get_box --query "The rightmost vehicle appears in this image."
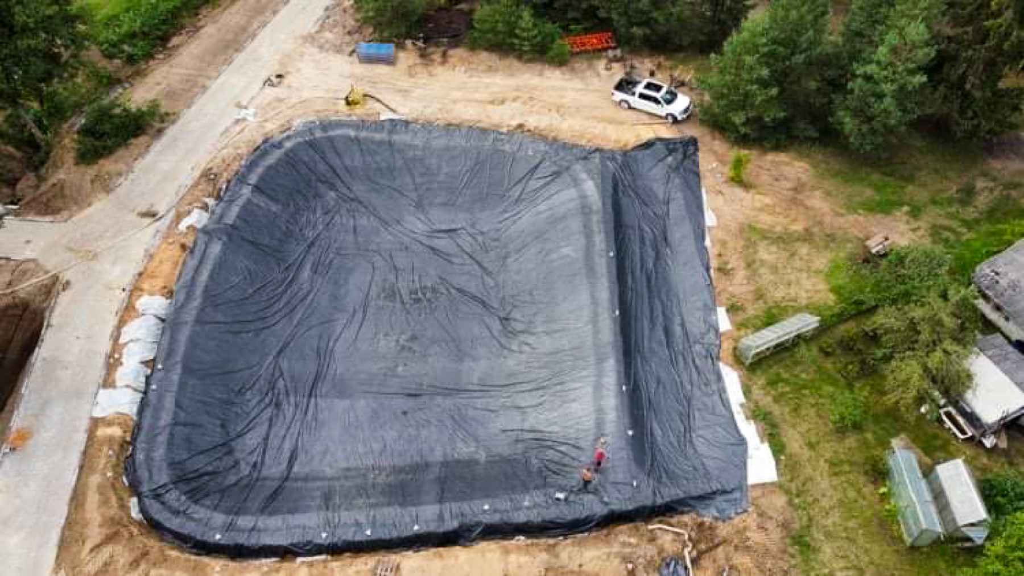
[608,77,700,124]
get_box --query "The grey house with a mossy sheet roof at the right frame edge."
[973,262,1024,370]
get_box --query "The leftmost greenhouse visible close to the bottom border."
[871,443,945,549]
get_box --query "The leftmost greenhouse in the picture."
[742,314,823,370]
